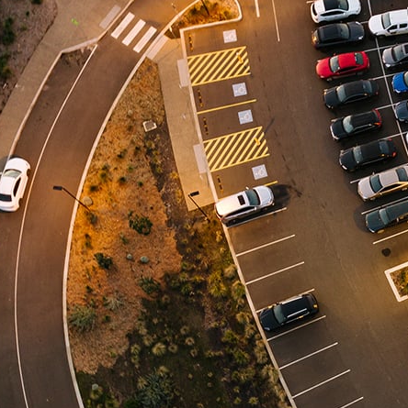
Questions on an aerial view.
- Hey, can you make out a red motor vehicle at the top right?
Yes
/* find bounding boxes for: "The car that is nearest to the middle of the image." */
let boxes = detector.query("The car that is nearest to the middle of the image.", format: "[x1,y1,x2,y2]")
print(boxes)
[213,184,277,223]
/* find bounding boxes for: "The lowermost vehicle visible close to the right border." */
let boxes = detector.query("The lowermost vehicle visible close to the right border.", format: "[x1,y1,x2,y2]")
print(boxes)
[363,196,408,233]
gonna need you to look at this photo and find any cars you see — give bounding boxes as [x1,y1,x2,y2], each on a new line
[311,17,366,50]
[338,137,398,171]
[310,0,362,23]
[391,67,408,97]
[381,41,408,70]
[356,164,408,199]
[393,99,408,125]
[258,292,322,330]
[323,76,380,108]
[328,107,384,142]
[315,50,371,81]
[363,196,408,233]
[0,157,32,213]
[213,184,277,223]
